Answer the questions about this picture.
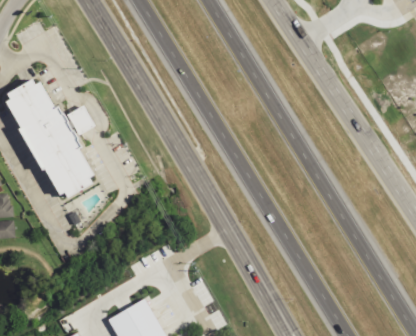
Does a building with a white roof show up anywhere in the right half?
No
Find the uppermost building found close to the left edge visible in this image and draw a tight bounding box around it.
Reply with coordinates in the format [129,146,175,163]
[6,80,98,198]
